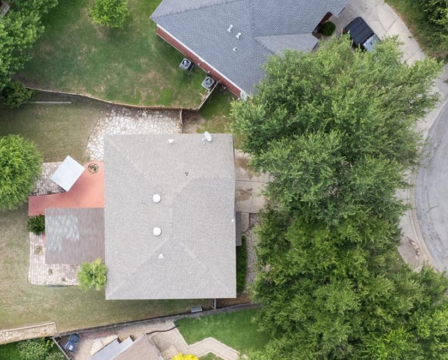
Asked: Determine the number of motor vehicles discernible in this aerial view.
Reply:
1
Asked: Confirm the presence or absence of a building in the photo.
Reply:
Yes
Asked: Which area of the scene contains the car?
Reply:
top right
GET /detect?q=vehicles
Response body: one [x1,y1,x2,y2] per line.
[335,2,384,56]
